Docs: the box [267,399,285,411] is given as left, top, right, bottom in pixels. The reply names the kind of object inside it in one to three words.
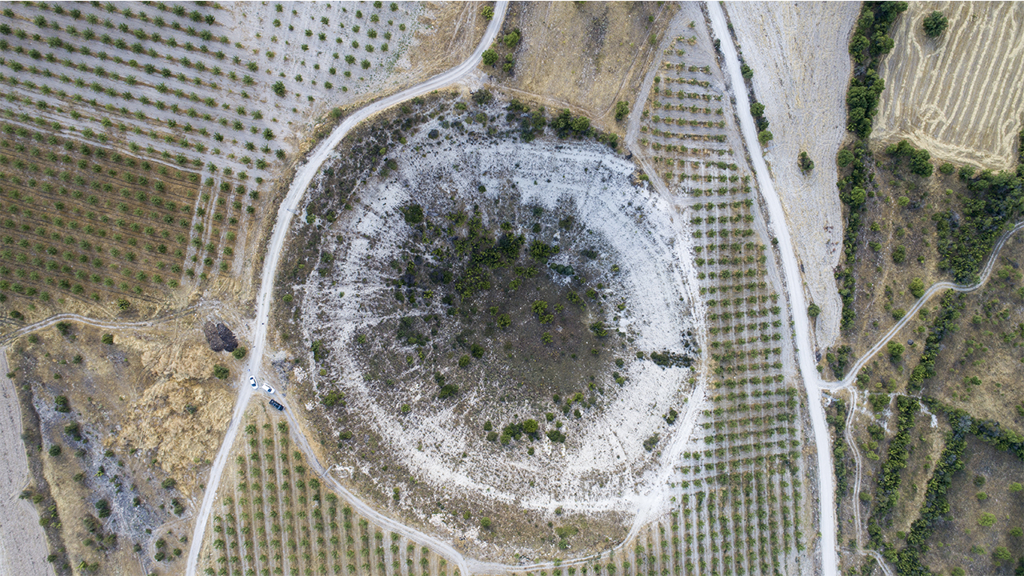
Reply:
vehicle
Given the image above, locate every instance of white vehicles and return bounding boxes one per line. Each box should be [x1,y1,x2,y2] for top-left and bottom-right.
[249,375,258,390]
[261,383,276,394]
